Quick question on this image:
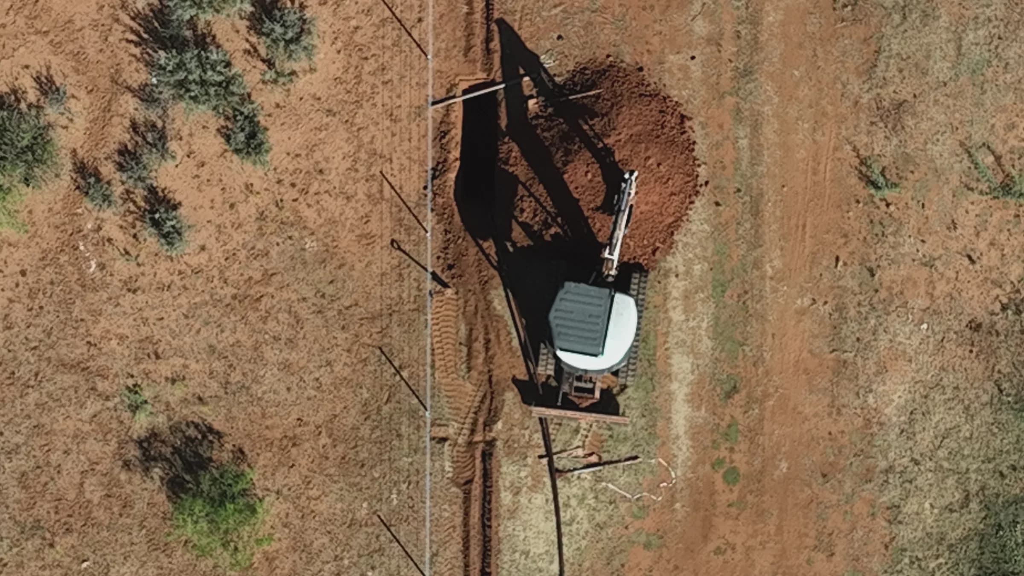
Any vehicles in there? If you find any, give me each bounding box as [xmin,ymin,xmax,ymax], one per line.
[530,167,650,423]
